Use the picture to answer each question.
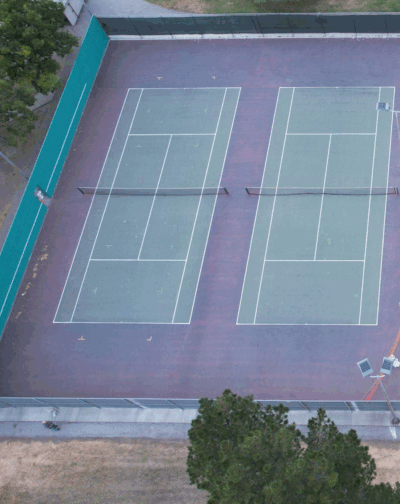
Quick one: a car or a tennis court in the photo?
tennis court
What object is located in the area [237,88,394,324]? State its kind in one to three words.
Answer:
tennis court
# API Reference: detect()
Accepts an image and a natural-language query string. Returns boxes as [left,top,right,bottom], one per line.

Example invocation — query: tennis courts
[52,88,242,338]
[237,88,394,324]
